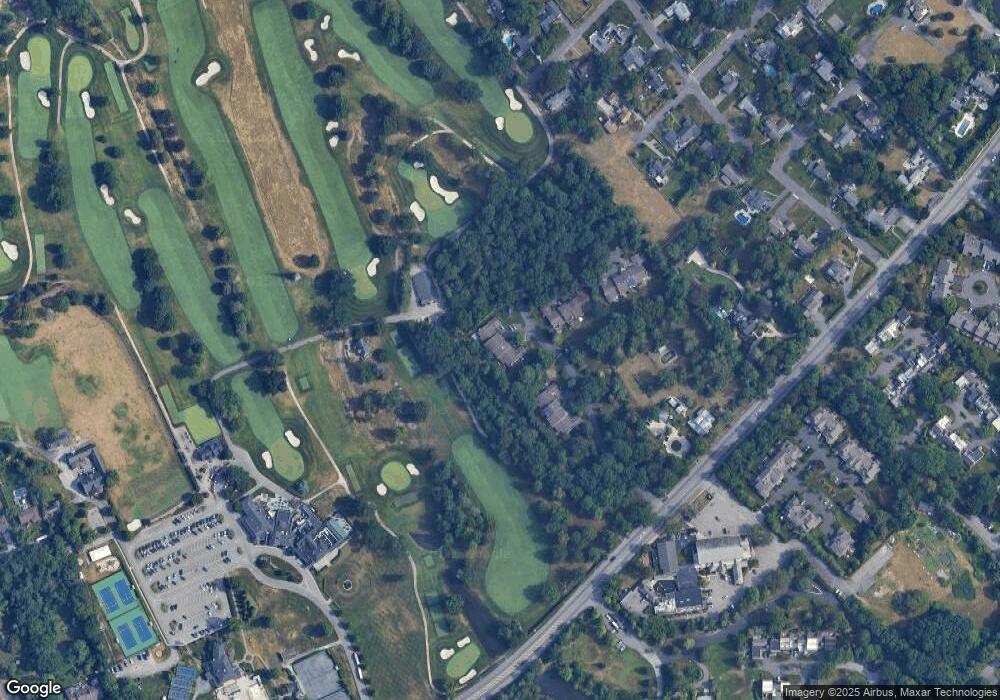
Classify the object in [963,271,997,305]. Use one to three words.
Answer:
roundabout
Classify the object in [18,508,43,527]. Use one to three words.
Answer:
house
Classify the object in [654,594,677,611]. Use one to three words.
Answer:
building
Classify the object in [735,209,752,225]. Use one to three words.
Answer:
swimming pool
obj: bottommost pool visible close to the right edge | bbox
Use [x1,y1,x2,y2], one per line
[952,111,975,139]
